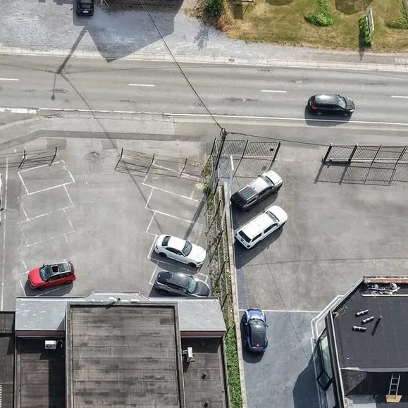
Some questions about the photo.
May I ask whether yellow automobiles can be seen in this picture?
No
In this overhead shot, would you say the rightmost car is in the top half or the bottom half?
top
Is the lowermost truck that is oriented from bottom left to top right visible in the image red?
No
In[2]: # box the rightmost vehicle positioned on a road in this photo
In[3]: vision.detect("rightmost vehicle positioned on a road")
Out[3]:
[306,93,354,119]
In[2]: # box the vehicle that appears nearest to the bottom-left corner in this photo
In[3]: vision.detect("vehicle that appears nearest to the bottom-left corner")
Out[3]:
[27,261,77,289]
